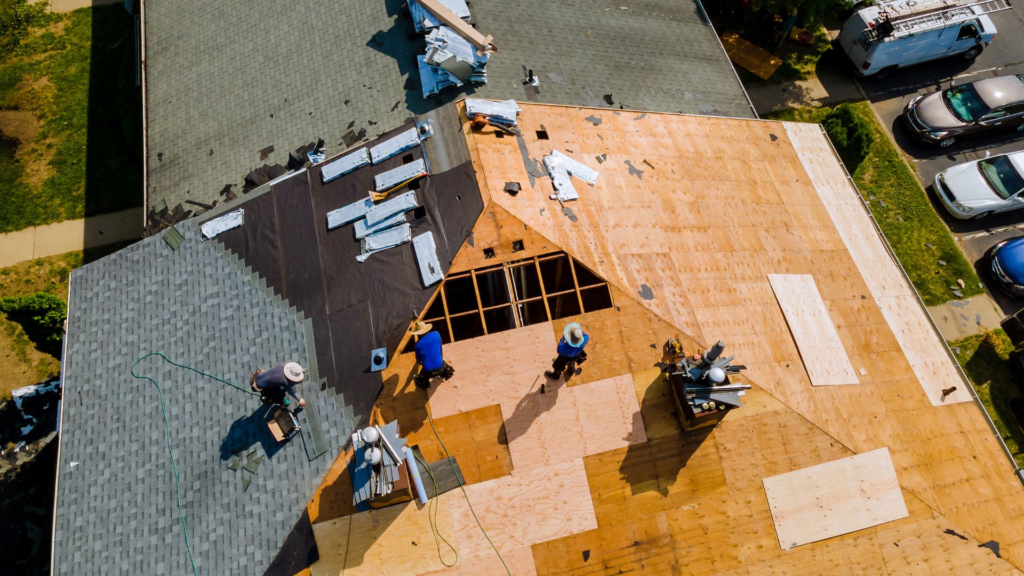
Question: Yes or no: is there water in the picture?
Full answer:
No, the picture contains no water.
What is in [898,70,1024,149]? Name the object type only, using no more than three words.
car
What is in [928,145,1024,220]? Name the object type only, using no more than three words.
car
